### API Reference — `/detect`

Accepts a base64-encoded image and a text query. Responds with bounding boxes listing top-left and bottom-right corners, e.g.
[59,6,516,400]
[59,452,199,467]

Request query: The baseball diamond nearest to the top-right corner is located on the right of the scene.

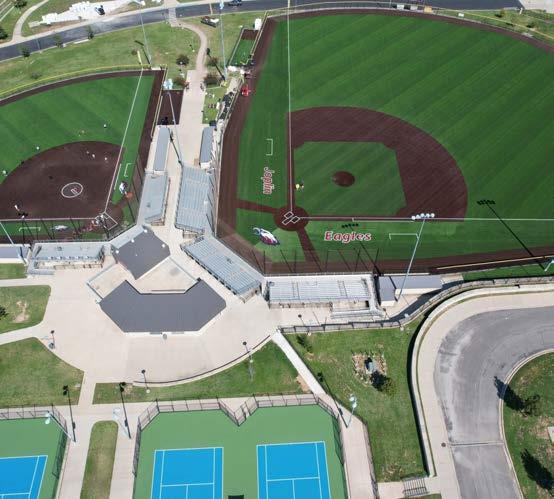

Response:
[218,8,554,274]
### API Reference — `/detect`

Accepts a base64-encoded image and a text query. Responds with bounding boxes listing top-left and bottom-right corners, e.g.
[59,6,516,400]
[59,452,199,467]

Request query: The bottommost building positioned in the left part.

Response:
[100,279,226,337]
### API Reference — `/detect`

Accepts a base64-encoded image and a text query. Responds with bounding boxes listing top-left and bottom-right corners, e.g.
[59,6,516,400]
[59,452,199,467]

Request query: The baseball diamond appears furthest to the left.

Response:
[0,68,165,243]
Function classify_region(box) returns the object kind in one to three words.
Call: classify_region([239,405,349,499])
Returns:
tennis court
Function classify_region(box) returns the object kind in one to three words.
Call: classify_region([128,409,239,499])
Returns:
tennis court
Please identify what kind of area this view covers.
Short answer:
sports ground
